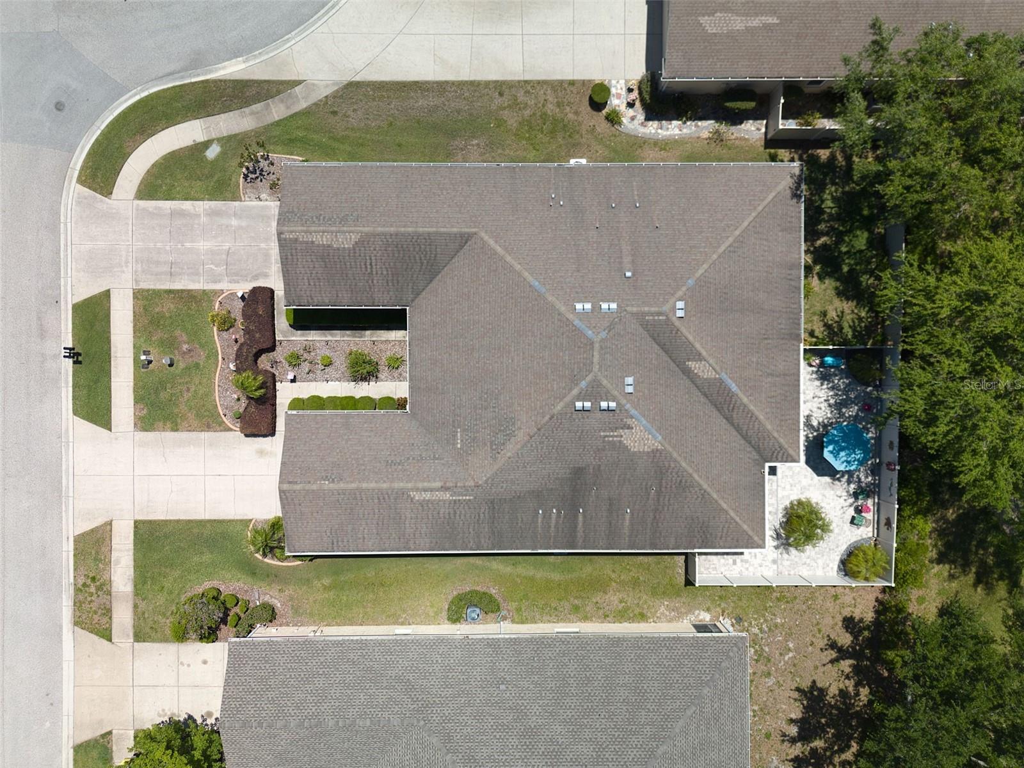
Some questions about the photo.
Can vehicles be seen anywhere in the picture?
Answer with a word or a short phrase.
No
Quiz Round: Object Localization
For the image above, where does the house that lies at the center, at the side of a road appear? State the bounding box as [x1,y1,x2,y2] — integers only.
[274,161,805,555]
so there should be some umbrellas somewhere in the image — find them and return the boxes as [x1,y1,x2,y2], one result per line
[822,423,871,471]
